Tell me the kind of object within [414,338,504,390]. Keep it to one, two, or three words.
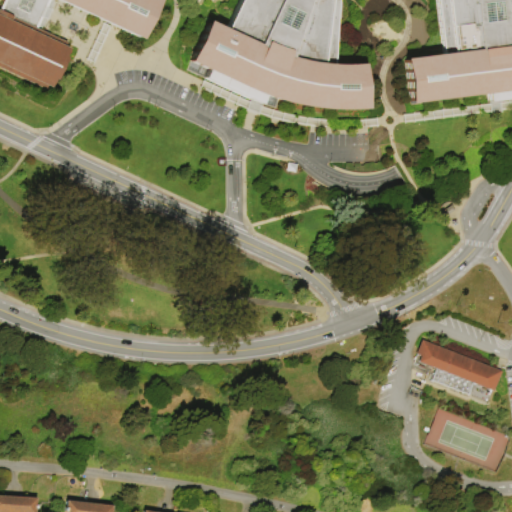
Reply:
building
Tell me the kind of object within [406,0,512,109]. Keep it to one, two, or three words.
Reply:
building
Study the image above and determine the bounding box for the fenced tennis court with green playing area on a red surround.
[426,408,508,472]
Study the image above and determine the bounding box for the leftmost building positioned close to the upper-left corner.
[0,0,72,87]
